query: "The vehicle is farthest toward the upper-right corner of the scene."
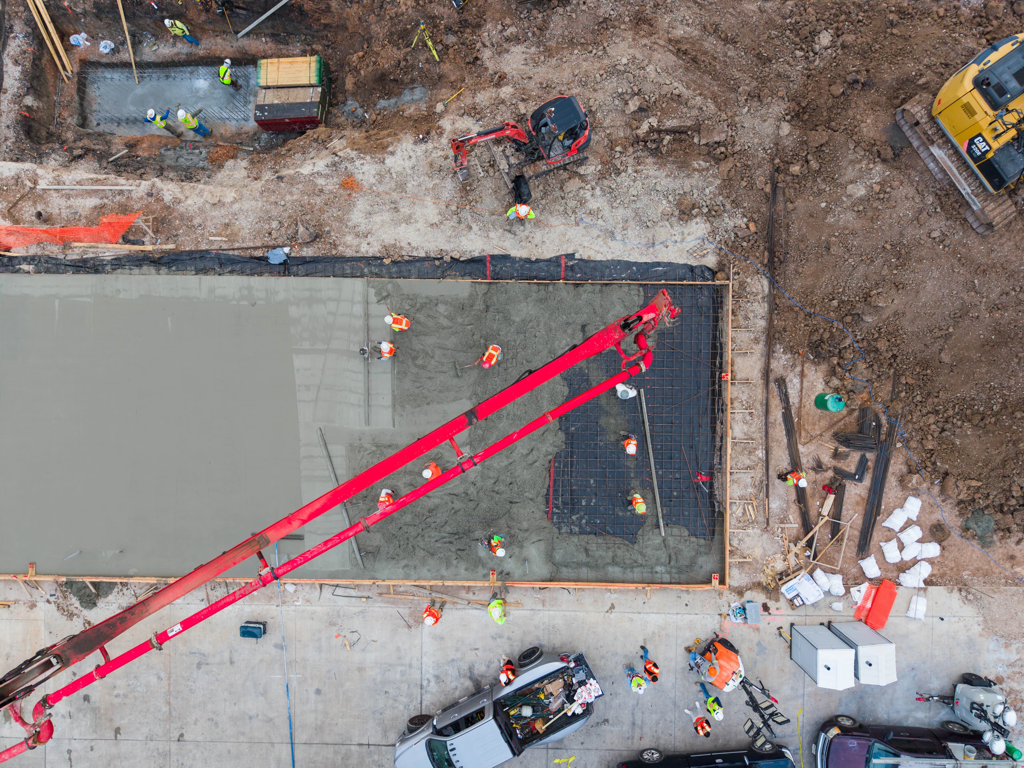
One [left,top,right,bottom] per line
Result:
[886,27,1024,239]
